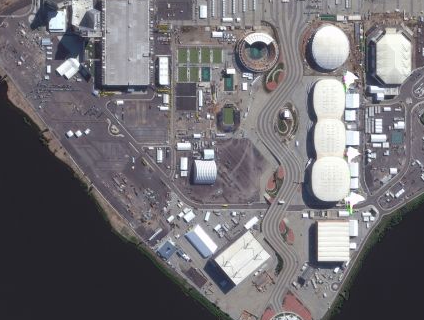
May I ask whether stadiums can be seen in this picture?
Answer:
Yes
